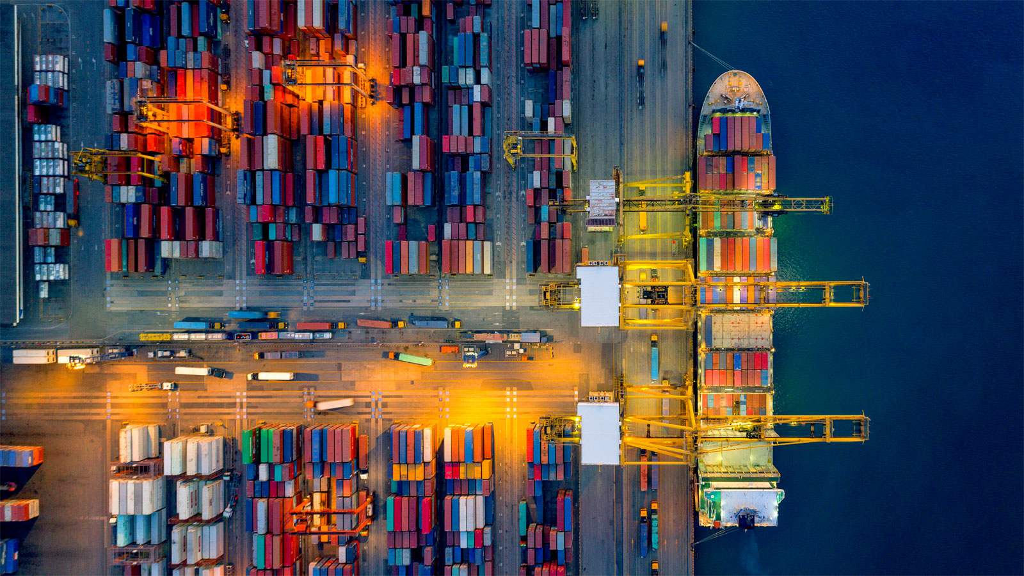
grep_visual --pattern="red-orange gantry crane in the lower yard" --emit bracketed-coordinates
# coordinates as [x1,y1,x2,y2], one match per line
[287,488,375,536]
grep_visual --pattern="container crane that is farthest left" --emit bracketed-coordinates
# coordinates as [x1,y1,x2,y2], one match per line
[67,153,170,188]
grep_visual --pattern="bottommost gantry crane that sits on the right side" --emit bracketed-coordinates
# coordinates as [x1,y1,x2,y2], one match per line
[534,370,868,466]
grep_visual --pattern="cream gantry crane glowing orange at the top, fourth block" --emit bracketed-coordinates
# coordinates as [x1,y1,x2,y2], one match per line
[280,61,374,107]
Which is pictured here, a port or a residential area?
port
